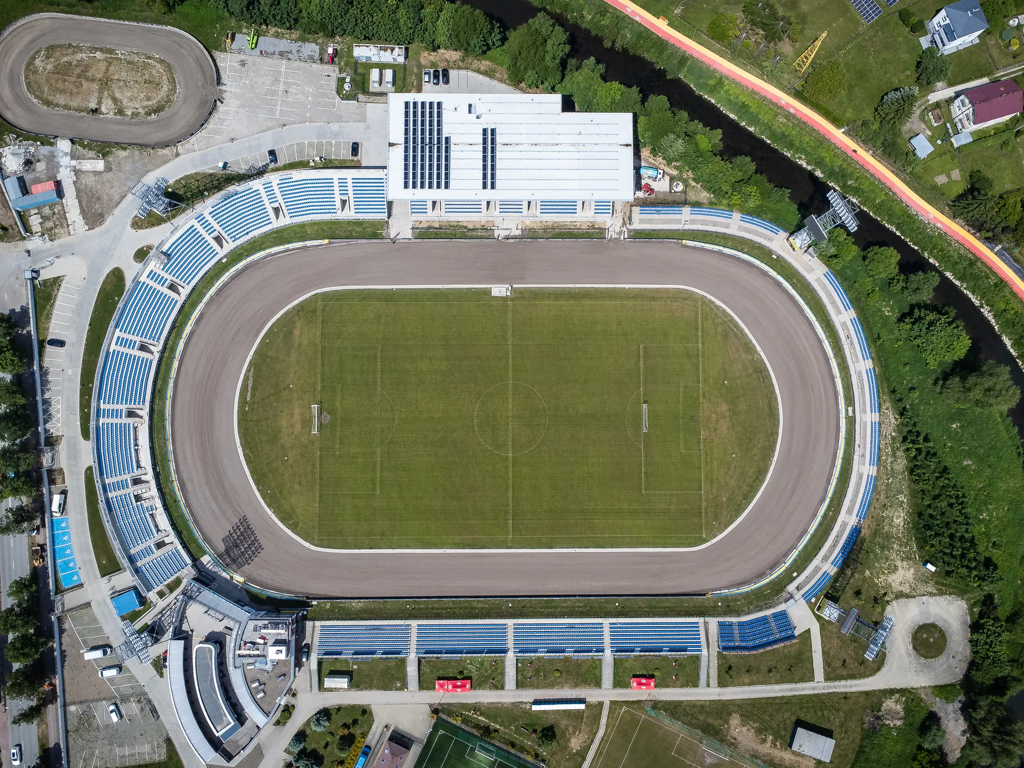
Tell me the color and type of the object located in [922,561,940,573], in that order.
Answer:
white vehicle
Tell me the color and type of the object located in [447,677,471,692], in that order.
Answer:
red tent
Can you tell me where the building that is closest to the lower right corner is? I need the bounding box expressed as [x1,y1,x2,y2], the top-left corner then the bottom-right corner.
[786,720,835,762]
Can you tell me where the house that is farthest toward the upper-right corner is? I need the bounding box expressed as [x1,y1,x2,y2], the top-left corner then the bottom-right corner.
[929,0,988,50]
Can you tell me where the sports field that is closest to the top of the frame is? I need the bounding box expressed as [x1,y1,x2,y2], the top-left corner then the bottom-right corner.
[317,302,703,538]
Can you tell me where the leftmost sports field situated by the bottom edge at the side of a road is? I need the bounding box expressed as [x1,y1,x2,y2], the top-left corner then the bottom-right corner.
[413,716,537,768]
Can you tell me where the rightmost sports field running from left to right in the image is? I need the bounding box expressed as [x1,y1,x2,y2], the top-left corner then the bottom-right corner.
[594,708,745,768]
